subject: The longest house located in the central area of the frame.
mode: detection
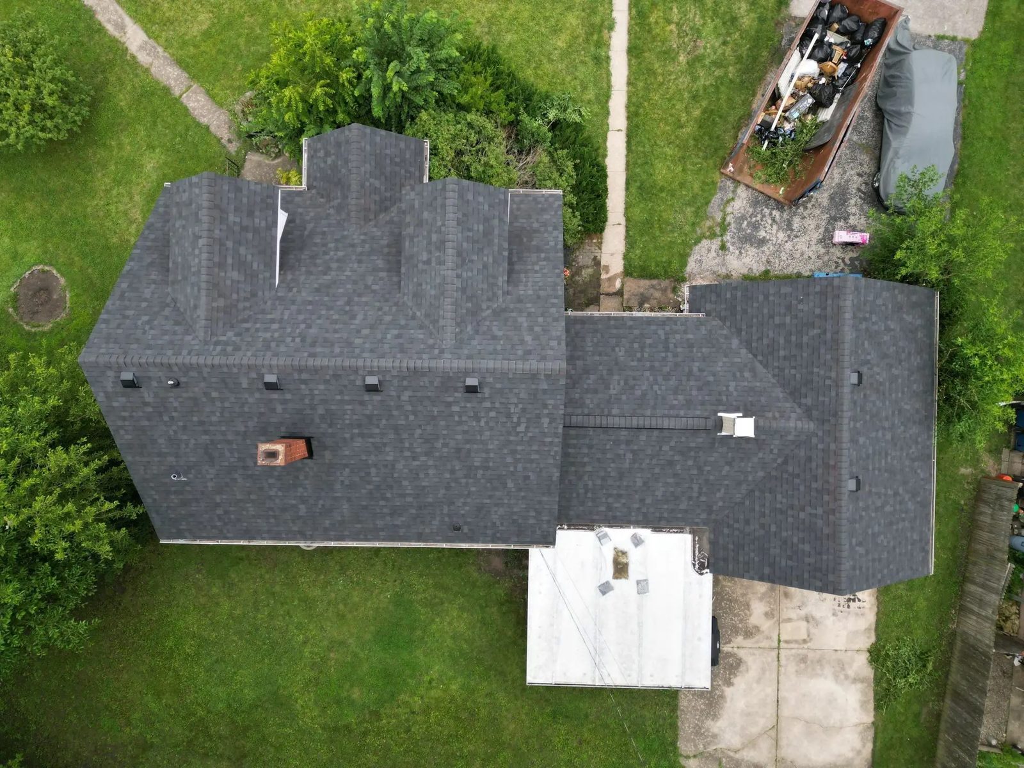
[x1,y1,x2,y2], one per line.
[80,124,942,595]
